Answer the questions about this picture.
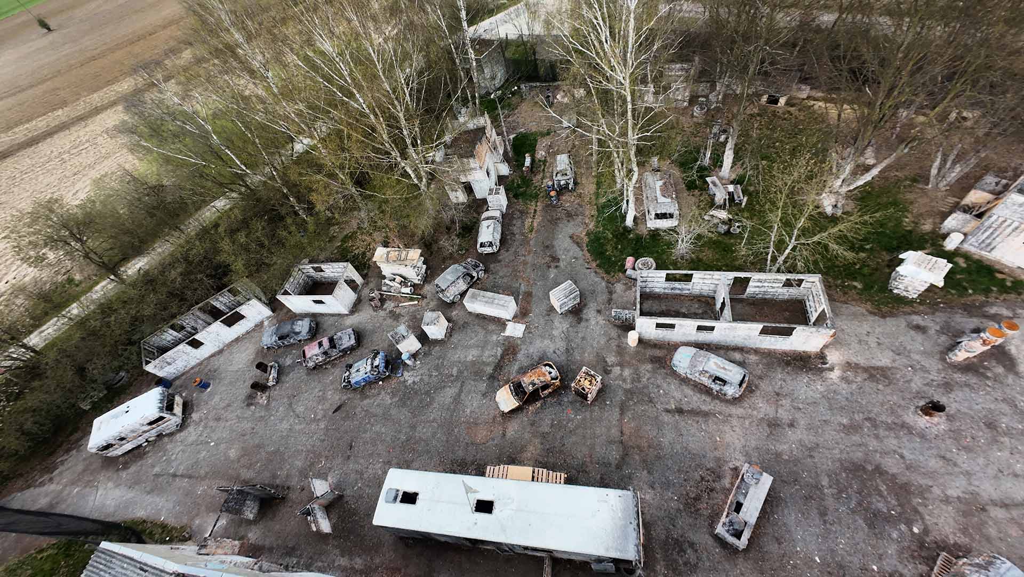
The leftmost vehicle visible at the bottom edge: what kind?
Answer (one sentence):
It looks like the leftmost vehicle visible at the bottom edge is a bus.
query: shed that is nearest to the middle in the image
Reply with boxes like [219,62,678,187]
[452,113,513,199]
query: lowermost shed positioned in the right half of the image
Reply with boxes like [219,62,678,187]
[636,270,837,351]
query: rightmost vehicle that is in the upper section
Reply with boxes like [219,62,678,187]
[641,167,677,229]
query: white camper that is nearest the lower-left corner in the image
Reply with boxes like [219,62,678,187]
[88,388,189,457]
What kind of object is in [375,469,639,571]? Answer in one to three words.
bus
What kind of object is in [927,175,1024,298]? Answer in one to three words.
shed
